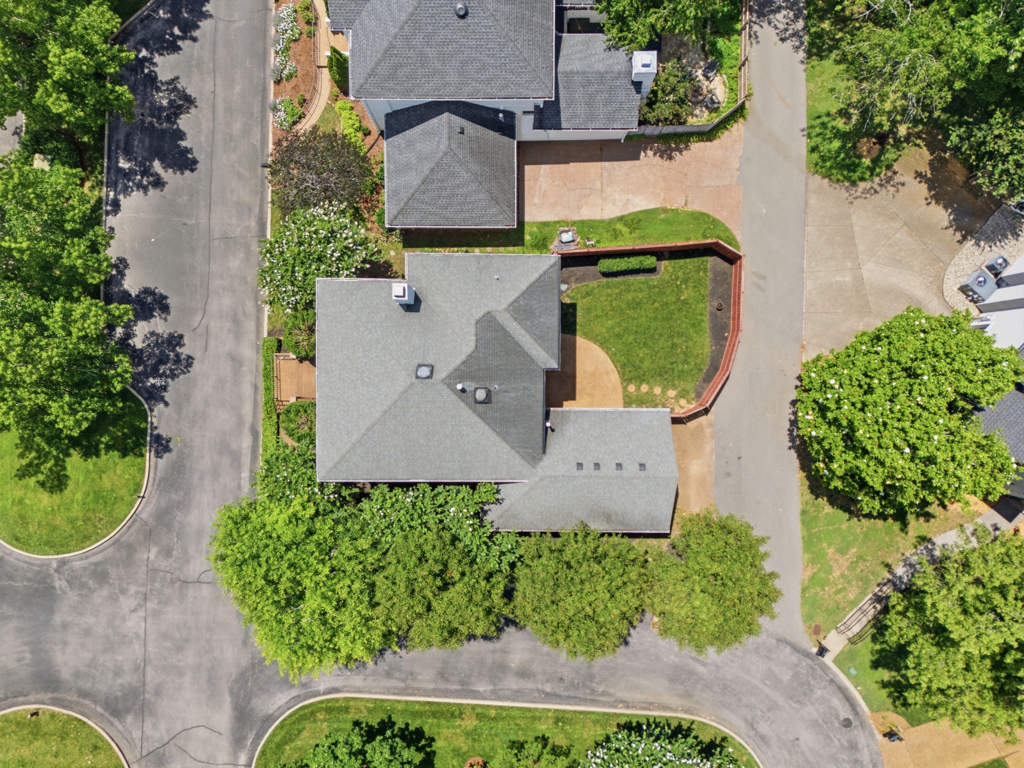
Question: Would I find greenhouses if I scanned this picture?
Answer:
No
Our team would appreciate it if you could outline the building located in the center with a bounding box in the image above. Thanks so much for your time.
[314,252,677,534]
